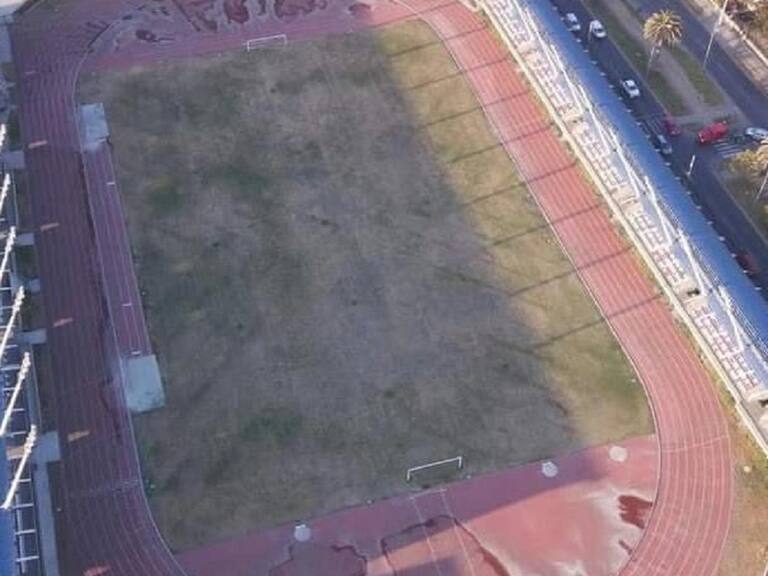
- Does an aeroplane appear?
No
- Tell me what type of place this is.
sports ground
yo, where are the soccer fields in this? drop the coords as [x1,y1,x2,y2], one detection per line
[76,21,656,553]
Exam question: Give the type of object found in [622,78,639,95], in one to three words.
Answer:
car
